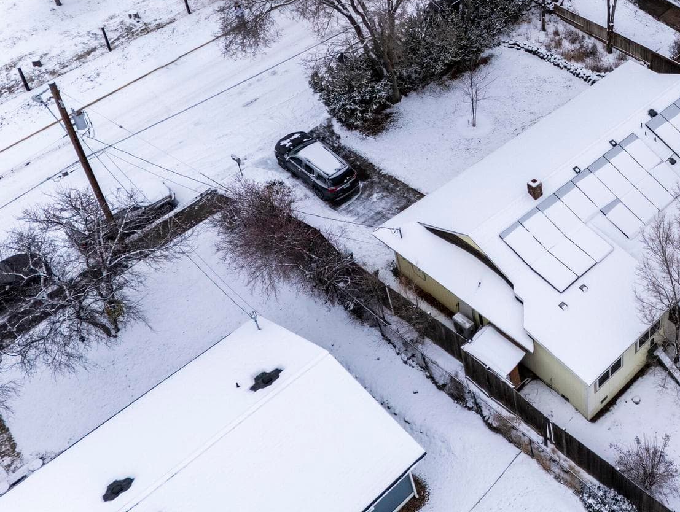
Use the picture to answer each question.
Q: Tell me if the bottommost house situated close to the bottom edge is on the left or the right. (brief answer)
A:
left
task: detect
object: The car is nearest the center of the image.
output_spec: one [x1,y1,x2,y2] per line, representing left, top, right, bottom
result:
[275,133,365,202]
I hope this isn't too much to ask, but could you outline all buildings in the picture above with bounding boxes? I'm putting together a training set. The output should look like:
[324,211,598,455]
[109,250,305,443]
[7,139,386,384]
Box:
[371,59,680,421]
[0,310,422,512]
